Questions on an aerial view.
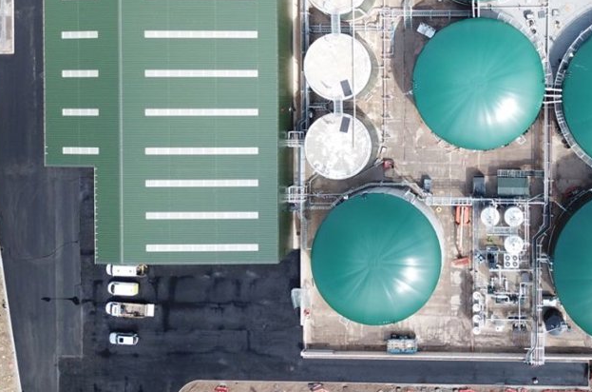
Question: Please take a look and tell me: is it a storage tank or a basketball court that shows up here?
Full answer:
I can see a storage tank in this picture.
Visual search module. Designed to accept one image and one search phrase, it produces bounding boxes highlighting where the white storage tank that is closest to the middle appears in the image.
[305,112,376,178]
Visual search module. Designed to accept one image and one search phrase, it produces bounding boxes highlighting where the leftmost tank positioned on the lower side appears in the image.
[308,185,443,324]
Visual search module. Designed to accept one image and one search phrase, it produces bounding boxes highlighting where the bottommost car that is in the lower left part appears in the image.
[107,332,136,347]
